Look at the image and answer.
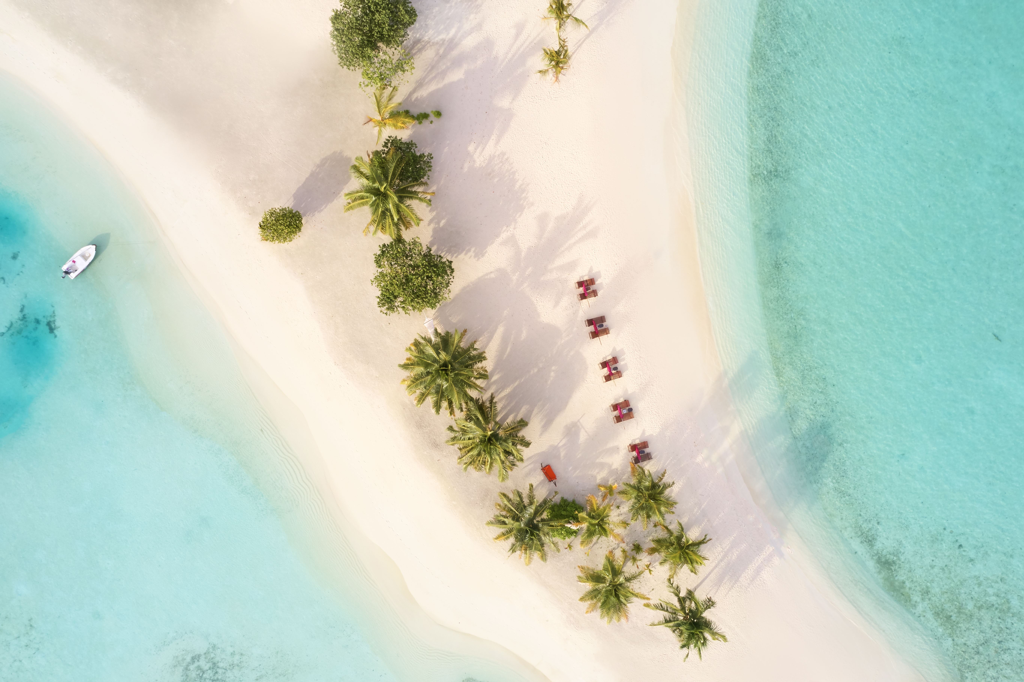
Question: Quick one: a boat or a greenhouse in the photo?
boat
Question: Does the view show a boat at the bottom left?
No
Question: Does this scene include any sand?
Yes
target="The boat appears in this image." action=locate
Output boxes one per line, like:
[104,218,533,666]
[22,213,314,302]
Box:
[62,244,98,281]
